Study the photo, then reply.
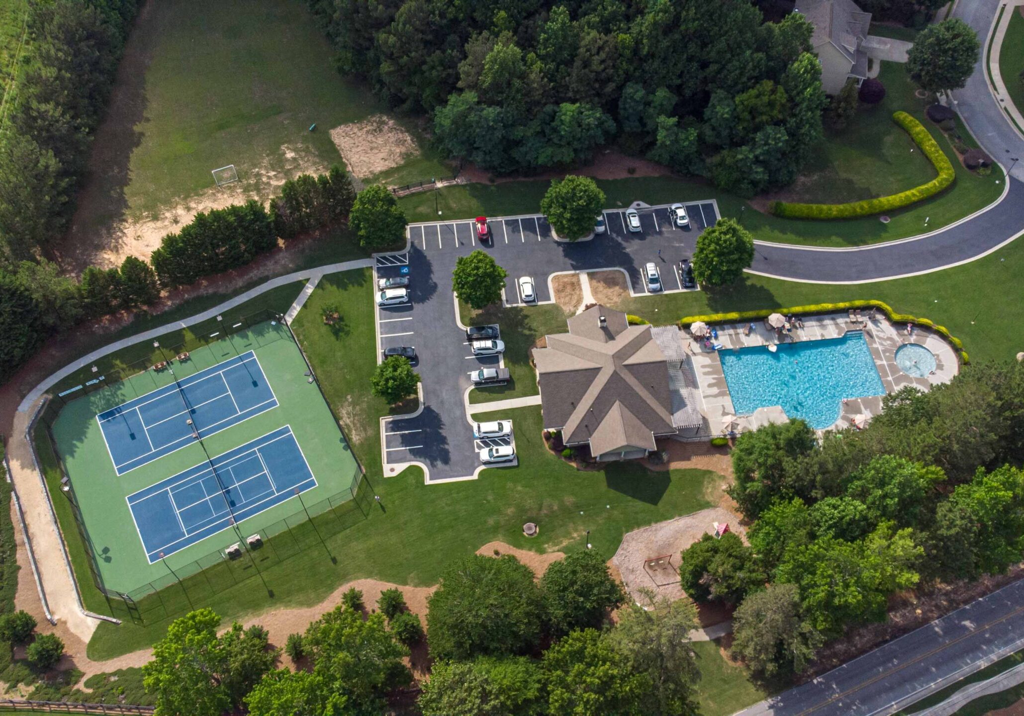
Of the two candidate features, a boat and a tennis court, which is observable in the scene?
tennis court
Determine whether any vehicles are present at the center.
Yes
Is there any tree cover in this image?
Yes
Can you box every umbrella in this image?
[690,323,709,341]
[855,409,875,428]
[721,415,741,433]
[768,316,787,333]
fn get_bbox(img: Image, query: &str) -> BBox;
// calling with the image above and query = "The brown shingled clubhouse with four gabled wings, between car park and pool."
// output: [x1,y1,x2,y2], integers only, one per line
[532,304,678,464]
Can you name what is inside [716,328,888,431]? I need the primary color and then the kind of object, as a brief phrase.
blue swimming pool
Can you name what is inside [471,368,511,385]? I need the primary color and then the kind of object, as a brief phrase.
gray vehicle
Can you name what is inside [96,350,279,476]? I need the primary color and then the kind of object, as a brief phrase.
blue tennis court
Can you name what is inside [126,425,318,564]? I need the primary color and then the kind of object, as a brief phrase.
blue tennis court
